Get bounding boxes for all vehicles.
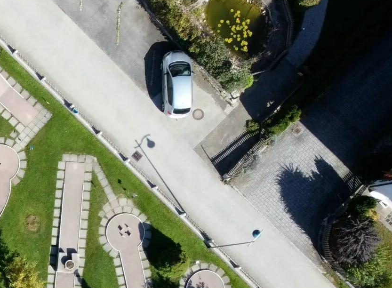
[158,55,195,120]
